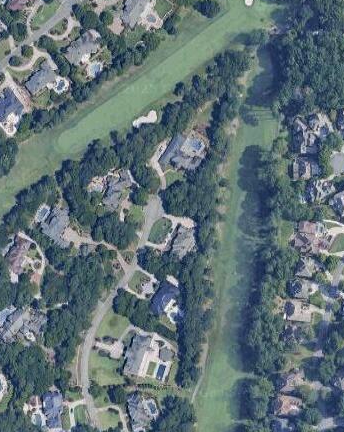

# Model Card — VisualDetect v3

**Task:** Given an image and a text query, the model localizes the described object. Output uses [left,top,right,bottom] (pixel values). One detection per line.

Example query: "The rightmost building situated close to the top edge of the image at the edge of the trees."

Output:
[121,0,150,30]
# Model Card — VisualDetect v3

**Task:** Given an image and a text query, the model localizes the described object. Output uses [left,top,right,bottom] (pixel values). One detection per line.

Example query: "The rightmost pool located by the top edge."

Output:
[140,9,160,27]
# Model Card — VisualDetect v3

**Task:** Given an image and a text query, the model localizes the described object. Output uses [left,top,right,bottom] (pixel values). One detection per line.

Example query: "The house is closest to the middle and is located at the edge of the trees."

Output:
[169,223,198,261]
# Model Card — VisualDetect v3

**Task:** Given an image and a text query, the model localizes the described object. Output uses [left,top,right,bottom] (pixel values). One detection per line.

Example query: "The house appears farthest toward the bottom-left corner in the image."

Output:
[41,389,64,428]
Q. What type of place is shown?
residential area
